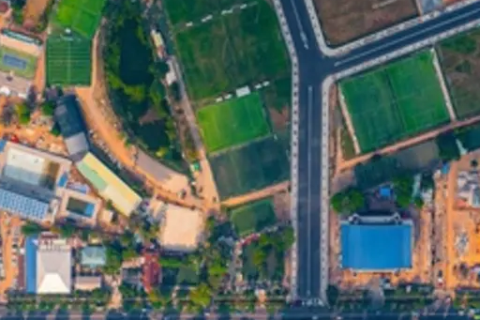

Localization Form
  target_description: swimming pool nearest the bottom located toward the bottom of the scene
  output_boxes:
[56,188,100,226]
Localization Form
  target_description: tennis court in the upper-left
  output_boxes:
[0,50,36,80]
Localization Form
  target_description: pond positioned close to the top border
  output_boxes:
[116,13,154,83]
